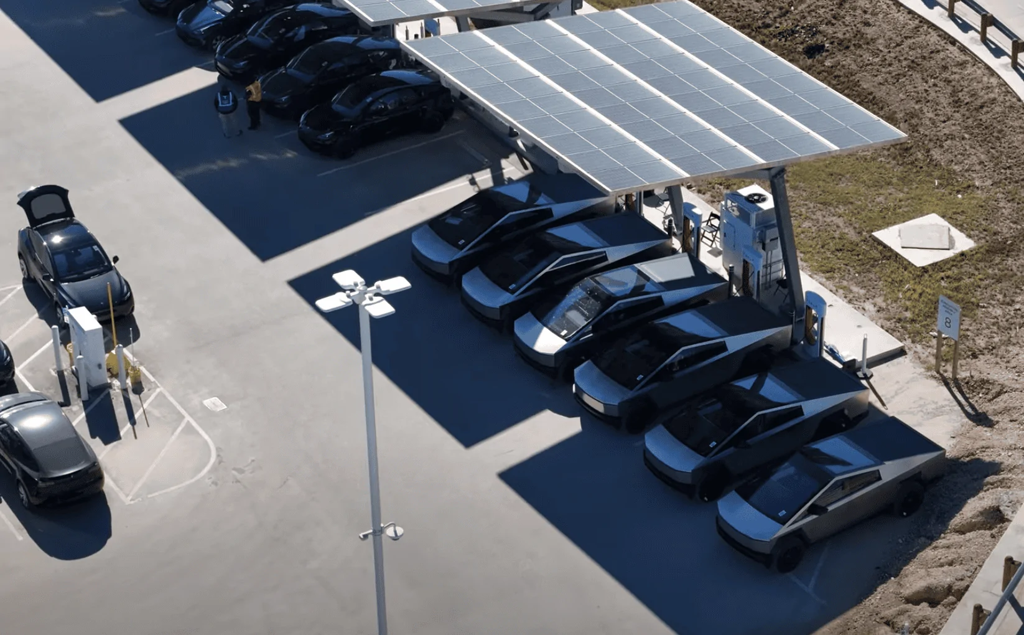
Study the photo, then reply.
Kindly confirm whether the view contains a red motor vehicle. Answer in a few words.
No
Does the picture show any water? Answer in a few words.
No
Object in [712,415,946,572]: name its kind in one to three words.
truck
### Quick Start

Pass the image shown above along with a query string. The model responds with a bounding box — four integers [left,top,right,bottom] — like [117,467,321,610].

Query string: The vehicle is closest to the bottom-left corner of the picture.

[0,393,107,511]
